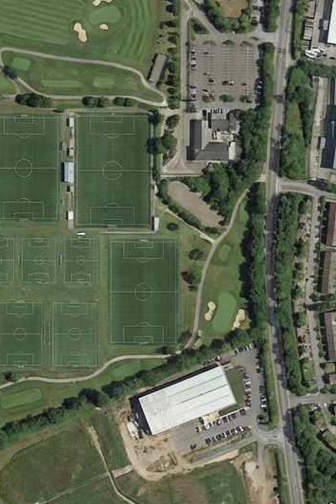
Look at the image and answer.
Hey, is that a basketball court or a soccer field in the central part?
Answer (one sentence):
Visible in the central part is a soccer field.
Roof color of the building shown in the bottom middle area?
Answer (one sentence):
From above, the roof of the building shown in the bottom middle area looks white.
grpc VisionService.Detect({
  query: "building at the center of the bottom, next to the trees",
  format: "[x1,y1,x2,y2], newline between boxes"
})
[139,366,236,436]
